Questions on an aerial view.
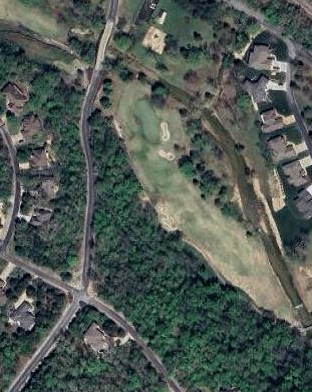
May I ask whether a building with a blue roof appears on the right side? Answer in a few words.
No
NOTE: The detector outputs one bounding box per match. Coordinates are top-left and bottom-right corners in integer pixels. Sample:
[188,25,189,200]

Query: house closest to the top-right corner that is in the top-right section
[246,43,270,72]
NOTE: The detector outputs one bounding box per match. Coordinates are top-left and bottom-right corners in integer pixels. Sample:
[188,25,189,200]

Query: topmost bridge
[93,10,117,64]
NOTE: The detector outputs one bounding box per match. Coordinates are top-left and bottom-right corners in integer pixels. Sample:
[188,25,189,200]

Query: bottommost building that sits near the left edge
[11,300,36,325]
